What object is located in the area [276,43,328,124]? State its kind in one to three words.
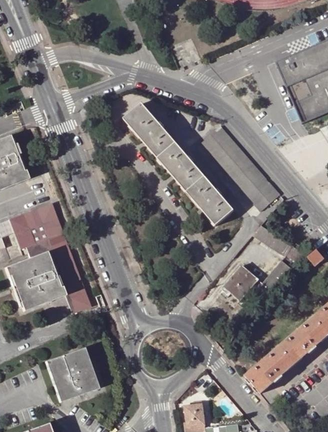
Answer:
building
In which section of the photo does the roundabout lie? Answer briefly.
bottom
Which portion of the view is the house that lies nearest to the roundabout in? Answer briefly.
bottom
